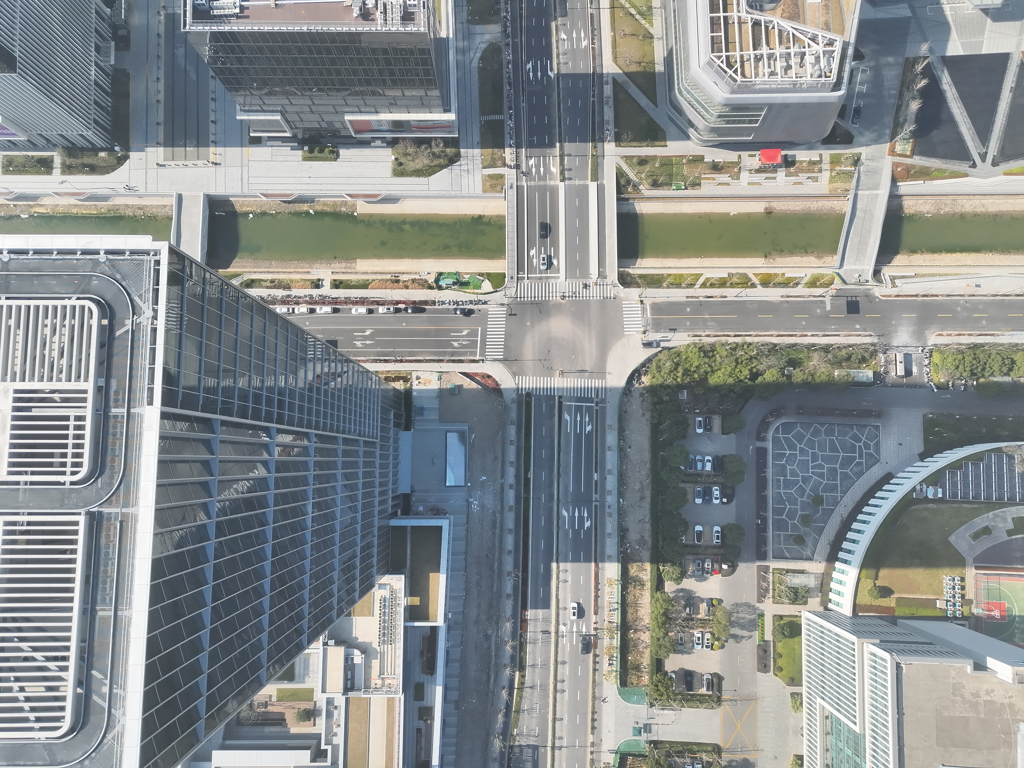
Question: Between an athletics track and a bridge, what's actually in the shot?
bridge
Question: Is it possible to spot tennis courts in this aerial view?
No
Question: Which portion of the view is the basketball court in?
bottom right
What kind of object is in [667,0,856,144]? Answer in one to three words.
building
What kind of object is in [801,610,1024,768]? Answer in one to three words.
building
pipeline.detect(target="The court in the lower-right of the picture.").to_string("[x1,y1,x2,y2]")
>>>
[973,573,1024,639]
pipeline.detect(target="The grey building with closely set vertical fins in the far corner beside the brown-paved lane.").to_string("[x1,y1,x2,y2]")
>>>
[0,0,143,148]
